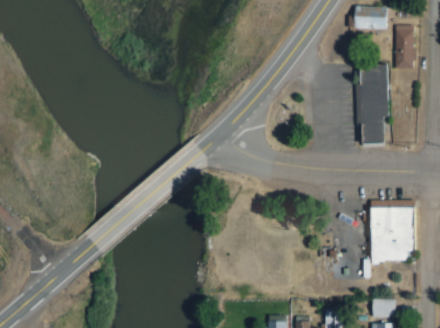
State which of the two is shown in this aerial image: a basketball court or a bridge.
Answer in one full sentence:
Of the two, only a bridge appears.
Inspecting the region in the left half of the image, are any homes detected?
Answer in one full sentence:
No, there's no home to be seen in the left half of the image.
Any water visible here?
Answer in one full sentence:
Yes, the picture does contain water.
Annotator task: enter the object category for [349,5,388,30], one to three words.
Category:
house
